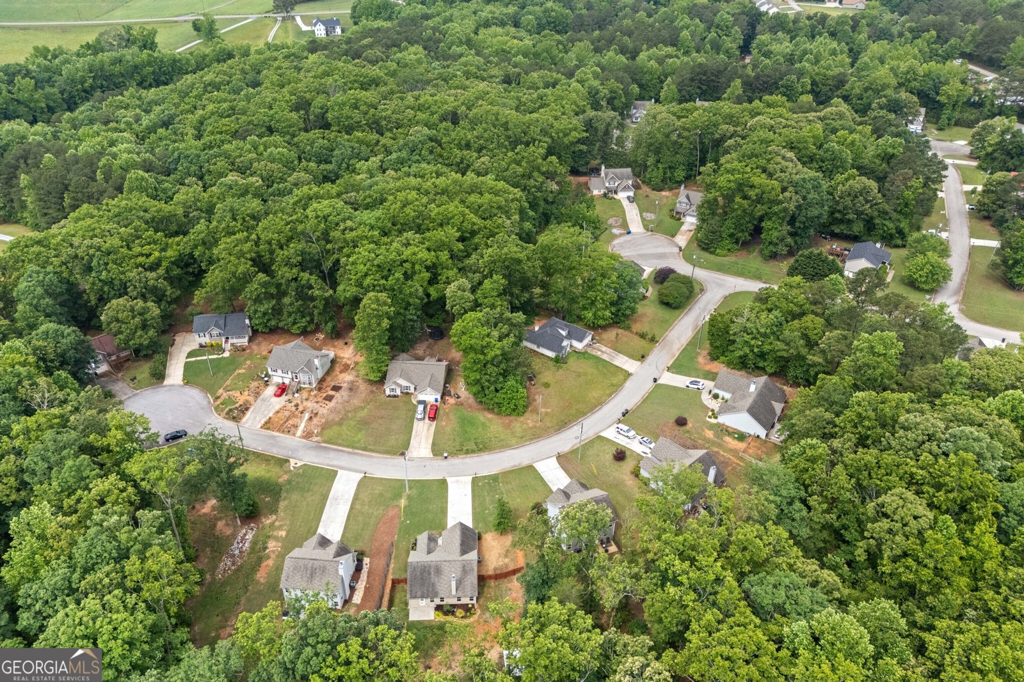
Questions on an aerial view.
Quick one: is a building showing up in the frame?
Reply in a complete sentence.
Yes, the picture does show a building.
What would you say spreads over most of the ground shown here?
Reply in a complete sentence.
Most of the picture is covered by trees.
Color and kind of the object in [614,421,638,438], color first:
white car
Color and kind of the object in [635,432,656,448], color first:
white car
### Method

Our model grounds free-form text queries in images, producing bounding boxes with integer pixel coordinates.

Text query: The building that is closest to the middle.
[522,315,593,358]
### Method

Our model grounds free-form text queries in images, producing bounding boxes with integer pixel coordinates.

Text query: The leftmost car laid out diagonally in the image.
[271,379,289,395]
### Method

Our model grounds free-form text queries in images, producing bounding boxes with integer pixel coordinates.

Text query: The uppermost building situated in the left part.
[312,9,345,36]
